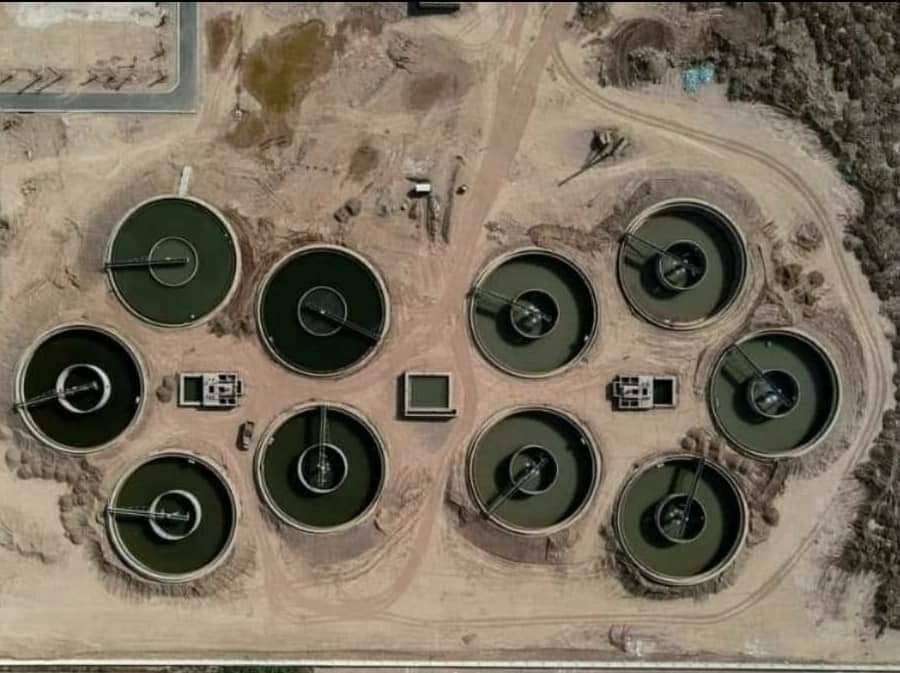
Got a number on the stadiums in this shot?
0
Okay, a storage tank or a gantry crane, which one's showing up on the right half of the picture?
storage tank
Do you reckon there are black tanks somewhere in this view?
Yes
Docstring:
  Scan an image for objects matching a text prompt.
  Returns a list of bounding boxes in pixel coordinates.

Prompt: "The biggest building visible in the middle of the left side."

[181,373,244,406]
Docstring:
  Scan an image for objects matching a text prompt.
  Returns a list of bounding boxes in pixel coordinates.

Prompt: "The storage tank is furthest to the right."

[706,328,839,459]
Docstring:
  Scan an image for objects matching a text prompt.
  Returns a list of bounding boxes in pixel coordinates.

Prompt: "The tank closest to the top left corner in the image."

[102,195,243,328]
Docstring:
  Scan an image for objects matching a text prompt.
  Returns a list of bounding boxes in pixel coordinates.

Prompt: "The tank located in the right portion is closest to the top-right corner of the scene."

[615,199,747,329]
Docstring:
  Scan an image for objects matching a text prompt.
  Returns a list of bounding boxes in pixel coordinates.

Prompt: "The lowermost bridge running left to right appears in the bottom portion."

[103,504,190,522]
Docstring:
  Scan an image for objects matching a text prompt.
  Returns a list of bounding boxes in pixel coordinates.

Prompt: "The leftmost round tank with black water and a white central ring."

[11,323,149,452]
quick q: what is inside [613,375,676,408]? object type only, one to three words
building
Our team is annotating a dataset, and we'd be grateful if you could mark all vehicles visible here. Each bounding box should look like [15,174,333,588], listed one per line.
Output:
[240,420,255,449]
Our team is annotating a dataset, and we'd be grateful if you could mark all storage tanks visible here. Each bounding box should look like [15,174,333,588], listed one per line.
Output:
[256,399,387,532]
[258,246,388,376]
[615,199,747,329]
[102,195,243,328]
[706,328,839,459]
[468,404,599,536]
[103,450,240,581]
[11,323,149,452]
[469,248,599,377]
[614,452,747,584]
